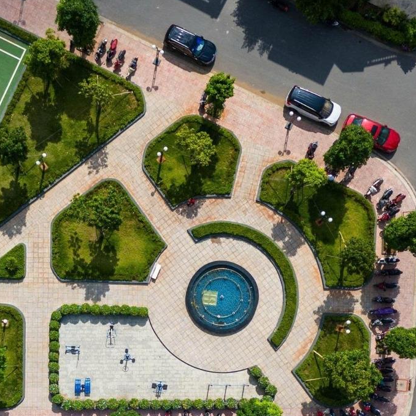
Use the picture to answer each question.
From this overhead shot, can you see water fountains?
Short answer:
Yes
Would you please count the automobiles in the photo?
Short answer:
three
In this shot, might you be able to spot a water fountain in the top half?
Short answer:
No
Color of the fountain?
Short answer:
blue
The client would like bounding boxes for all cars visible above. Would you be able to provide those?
[341,110,401,154]
[283,83,341,128]
[160,23,218,68]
